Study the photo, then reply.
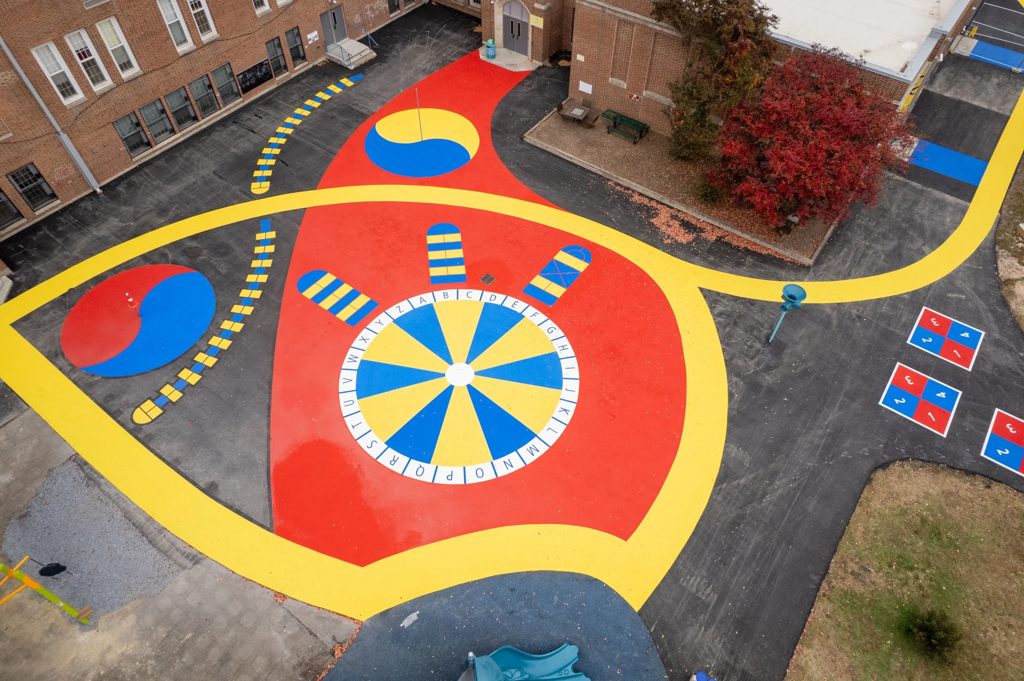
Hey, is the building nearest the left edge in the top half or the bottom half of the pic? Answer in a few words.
top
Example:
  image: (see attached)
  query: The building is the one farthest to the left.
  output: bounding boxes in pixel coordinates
[0,0,482,277]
